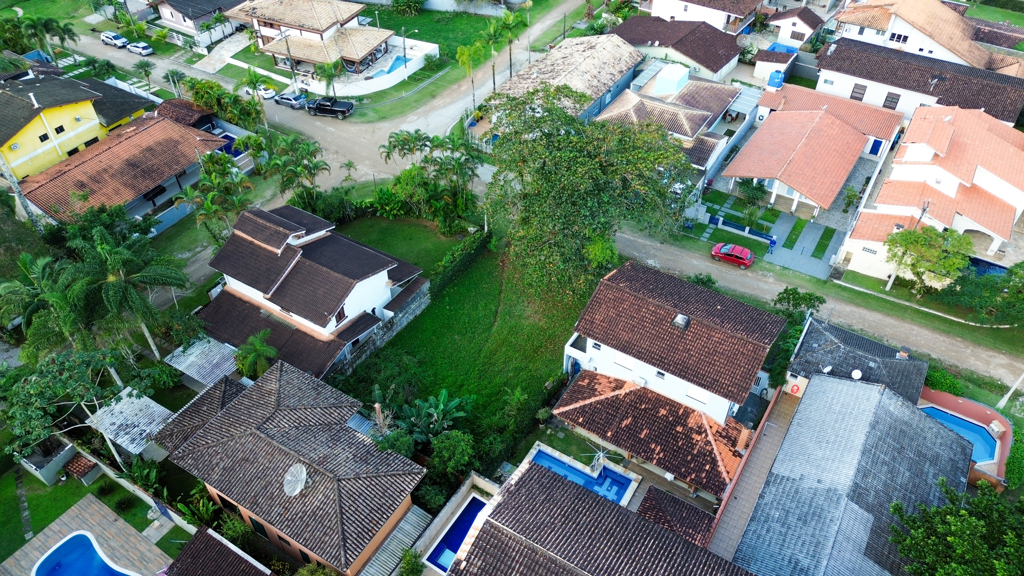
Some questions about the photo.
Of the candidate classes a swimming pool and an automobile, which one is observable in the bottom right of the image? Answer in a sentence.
You can see a swimming pool in the bottom right of the image.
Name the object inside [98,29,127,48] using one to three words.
car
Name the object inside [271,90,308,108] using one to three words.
car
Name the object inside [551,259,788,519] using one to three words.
house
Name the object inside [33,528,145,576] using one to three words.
swimming pool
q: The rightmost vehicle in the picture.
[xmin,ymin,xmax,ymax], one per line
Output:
[709,243,759,270]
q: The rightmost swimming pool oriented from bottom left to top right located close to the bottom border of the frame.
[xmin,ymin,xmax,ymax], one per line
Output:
[421,492,489,576]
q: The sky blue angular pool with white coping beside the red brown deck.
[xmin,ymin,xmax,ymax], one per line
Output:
[916,402,1004,466]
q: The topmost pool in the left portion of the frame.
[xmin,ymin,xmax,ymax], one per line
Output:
[369,54,415,78]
